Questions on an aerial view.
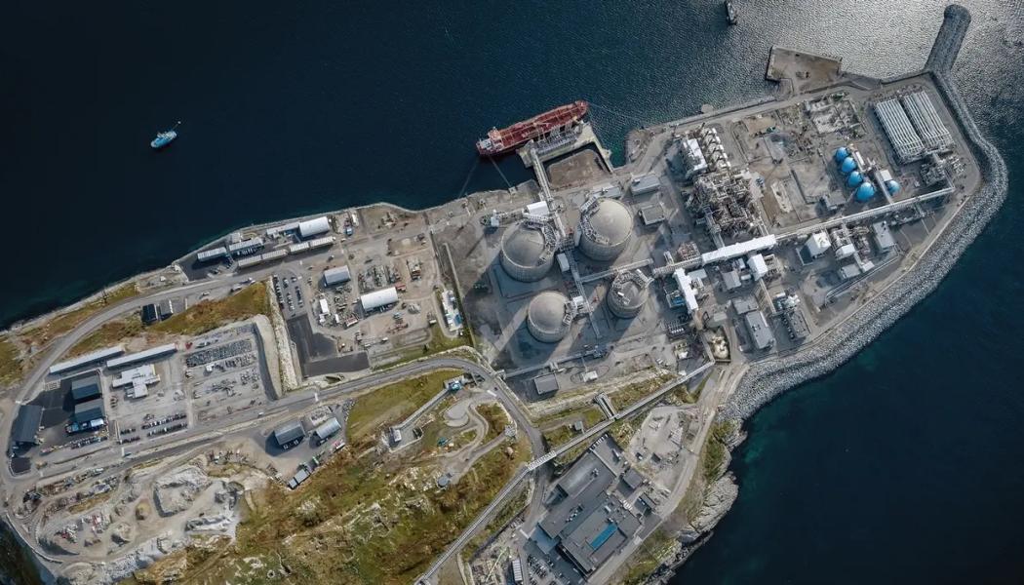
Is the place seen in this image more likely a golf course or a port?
port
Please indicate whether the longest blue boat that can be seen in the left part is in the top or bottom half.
top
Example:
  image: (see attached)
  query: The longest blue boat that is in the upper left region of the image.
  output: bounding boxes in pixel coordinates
[149,126,189,148]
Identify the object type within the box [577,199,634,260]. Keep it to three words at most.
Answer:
storage tank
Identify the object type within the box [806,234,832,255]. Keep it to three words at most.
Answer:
building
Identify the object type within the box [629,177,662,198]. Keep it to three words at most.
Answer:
shed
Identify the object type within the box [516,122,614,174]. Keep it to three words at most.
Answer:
pier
